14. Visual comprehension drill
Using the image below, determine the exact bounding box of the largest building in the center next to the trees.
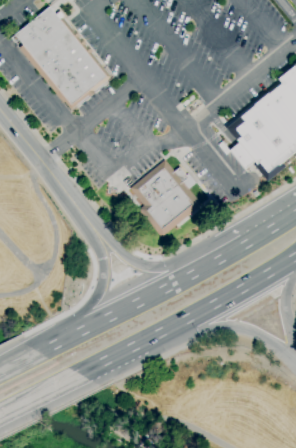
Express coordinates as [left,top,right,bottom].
[130,160,198,235]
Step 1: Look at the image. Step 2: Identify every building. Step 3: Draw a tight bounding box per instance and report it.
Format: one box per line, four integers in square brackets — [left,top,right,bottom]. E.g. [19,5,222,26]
[222,63,296,180]
[130,160,198,235]
[15,3,110,110]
